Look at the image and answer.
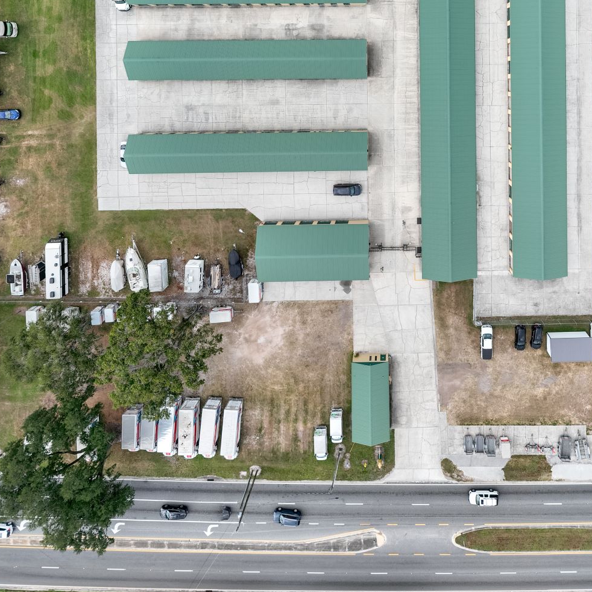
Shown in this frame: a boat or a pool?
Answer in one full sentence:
Visible in the photo is a boat.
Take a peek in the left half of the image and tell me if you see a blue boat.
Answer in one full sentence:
No, looking in the left half of the image, there is no blue boat.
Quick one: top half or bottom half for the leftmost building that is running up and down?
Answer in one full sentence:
The leftmost building that is running up and down sits in the bottom half of the picture.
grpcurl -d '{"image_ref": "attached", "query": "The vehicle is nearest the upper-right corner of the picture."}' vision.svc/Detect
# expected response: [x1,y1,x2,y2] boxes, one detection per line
[333,184,361,198]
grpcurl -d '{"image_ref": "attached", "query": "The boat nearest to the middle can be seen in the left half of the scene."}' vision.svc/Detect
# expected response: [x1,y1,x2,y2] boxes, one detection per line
[230,251,242,278]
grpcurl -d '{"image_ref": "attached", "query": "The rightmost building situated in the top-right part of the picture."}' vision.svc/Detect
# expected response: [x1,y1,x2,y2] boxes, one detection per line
[506,0,567,281]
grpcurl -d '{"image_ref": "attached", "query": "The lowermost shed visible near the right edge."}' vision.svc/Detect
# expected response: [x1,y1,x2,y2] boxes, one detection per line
[547,333,591,361]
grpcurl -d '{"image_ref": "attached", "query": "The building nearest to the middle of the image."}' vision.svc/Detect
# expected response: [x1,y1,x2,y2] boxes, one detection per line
[254,219,370,280]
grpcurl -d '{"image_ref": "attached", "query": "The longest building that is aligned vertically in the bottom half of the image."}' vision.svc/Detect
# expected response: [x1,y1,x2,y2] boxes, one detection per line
[352,353,390,452]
